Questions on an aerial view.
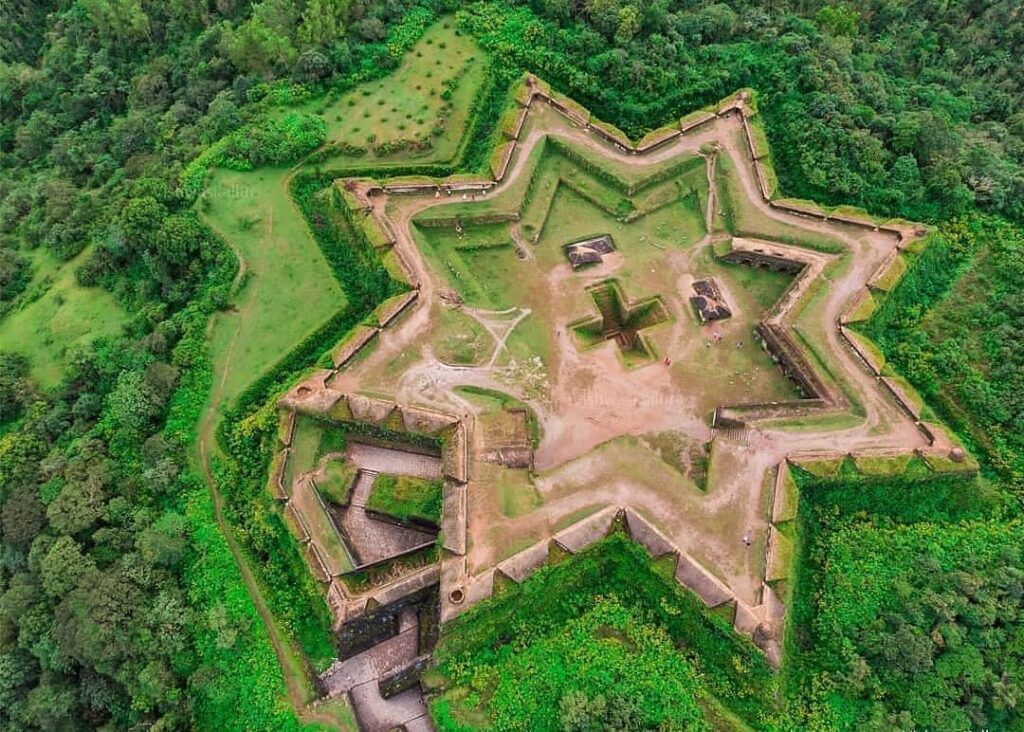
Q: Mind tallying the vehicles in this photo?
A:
0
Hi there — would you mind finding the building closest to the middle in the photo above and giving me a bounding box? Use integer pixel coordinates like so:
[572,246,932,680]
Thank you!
[565,234,616,271]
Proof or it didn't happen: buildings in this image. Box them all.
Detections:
[688,277,734,324]
[711,236,850,429]
[565,234,616,271]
